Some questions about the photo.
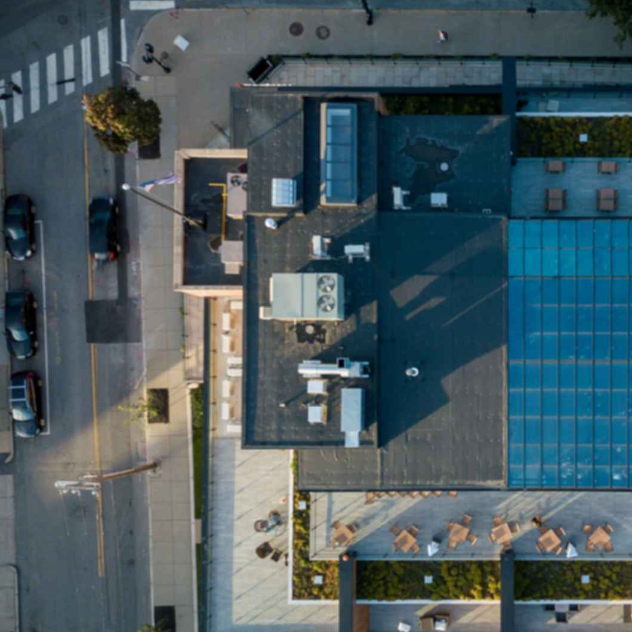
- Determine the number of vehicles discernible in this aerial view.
four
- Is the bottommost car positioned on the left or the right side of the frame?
left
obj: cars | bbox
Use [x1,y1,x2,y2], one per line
[10,372,46,435]
[3,293,39,356]
[87,198,121,262]
[3,195,39,261]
